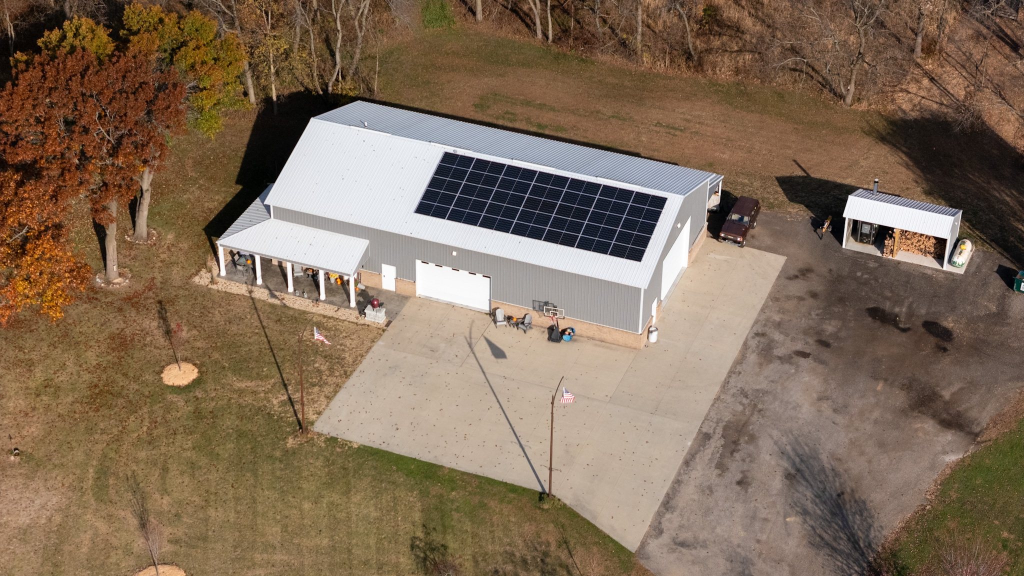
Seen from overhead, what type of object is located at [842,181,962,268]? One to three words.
shed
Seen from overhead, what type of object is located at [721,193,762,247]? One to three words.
car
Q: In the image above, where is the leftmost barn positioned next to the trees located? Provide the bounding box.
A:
[213,102,724,350]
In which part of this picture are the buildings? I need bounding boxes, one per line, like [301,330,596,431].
[842,181,962,268]
[213,102,724,350]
